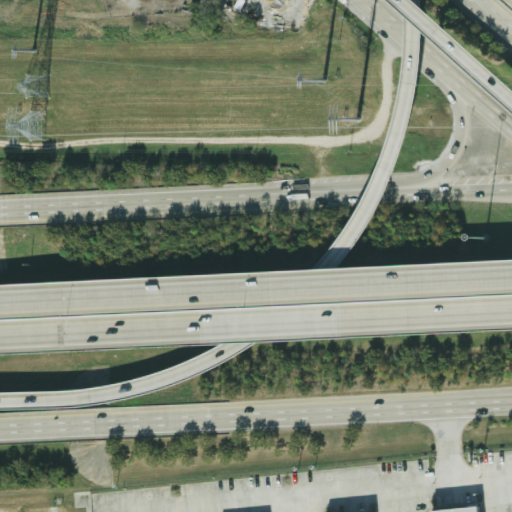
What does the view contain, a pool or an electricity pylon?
electricity pylon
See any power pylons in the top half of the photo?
Yes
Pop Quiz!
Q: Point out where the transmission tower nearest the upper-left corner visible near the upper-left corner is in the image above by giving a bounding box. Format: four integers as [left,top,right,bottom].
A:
[17,75,52,100]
